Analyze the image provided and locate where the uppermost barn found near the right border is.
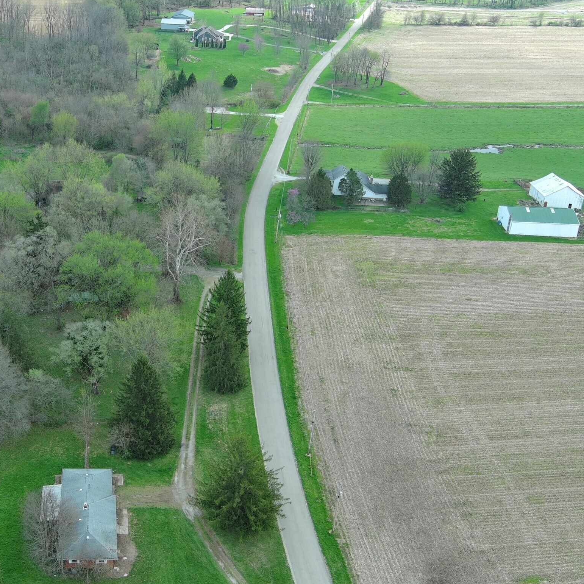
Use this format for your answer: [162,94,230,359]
[532,172,584,208]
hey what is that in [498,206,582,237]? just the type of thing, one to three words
shed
